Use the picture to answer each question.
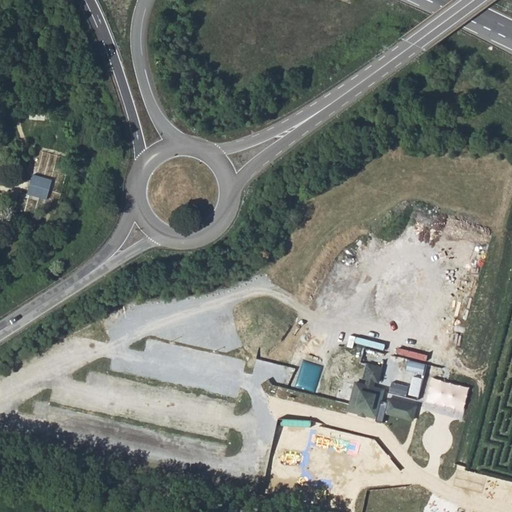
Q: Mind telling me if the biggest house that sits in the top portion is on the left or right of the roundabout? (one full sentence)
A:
You can see the biggest house that sits in the top portion positioned to the left of the roundabout.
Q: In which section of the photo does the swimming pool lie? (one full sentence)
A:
The swimming pool is located in the bottom region of the scene.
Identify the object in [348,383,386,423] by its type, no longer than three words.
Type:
building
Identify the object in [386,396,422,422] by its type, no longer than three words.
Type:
house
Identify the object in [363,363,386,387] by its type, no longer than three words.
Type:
building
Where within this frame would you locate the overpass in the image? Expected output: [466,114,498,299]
[404,0,496,56]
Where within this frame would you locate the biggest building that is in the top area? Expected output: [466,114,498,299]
[26,172,52,199]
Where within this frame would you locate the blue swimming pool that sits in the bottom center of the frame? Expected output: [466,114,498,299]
[294,358,325,394]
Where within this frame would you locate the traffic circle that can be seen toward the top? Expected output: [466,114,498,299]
[125,128,242,250]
